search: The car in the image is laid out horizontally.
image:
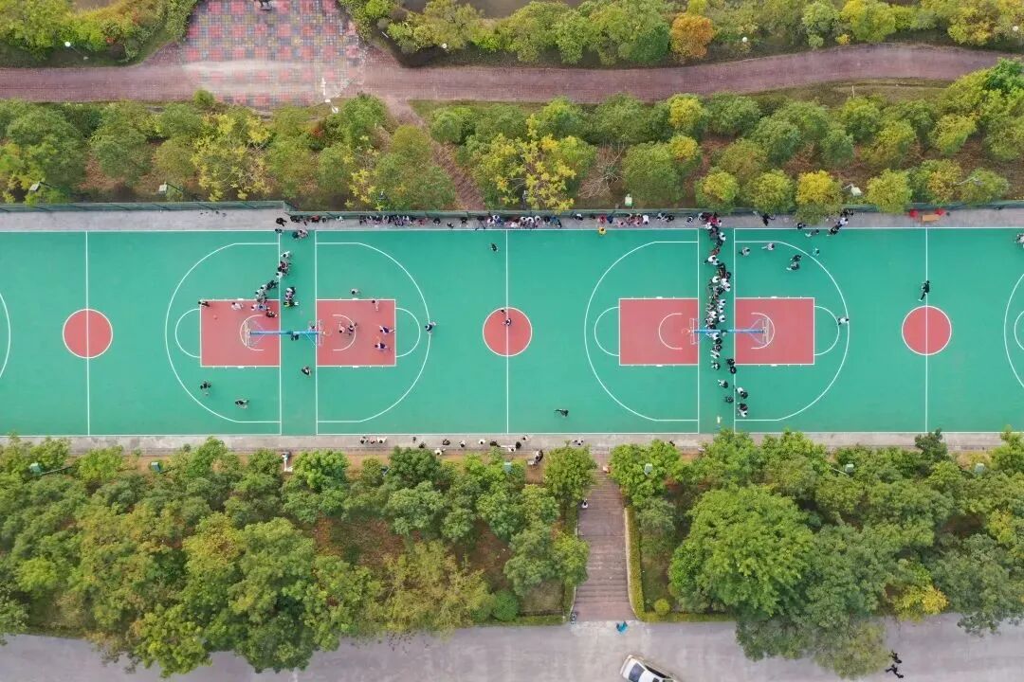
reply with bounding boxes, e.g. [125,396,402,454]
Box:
[620,655,680,682]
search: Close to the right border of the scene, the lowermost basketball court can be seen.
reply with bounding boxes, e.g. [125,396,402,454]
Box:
[717,227,1024,434]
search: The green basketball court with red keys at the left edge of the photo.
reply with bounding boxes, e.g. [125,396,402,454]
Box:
[0,230,299,437]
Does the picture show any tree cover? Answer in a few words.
Yes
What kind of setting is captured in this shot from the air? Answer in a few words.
sports ground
